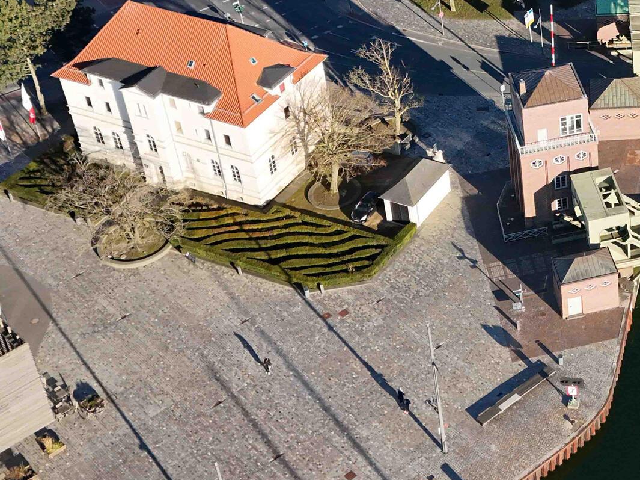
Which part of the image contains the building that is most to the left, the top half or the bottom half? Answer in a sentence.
The bottom half of the photo is where the building that is most to the left is.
